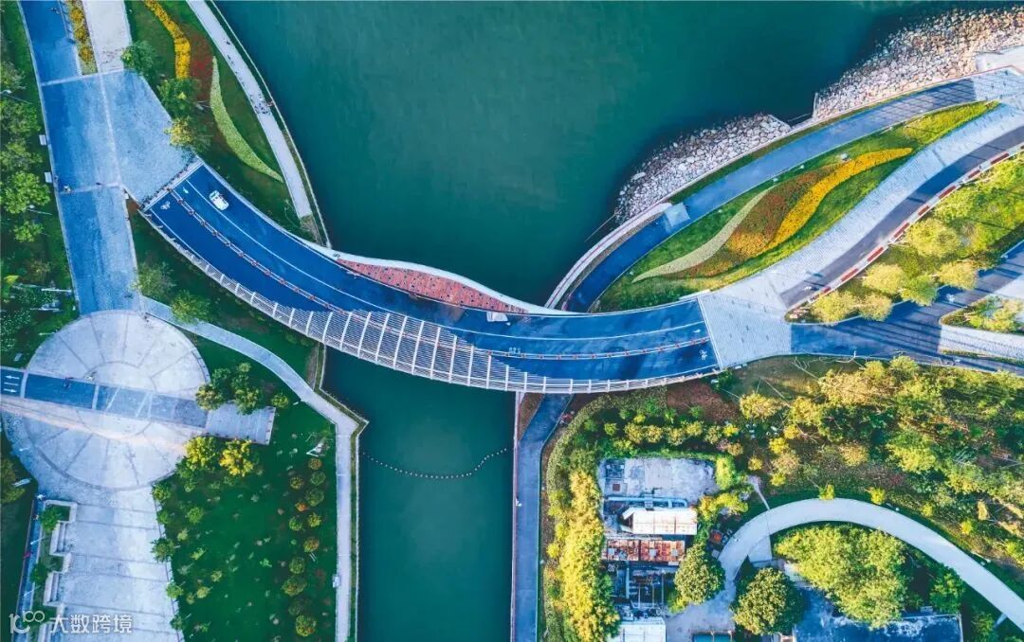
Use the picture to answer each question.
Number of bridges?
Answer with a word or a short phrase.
one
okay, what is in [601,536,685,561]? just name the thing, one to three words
shed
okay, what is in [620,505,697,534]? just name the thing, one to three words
shed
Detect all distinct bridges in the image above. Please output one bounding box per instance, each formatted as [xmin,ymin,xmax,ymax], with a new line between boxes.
[142,159,728,395]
